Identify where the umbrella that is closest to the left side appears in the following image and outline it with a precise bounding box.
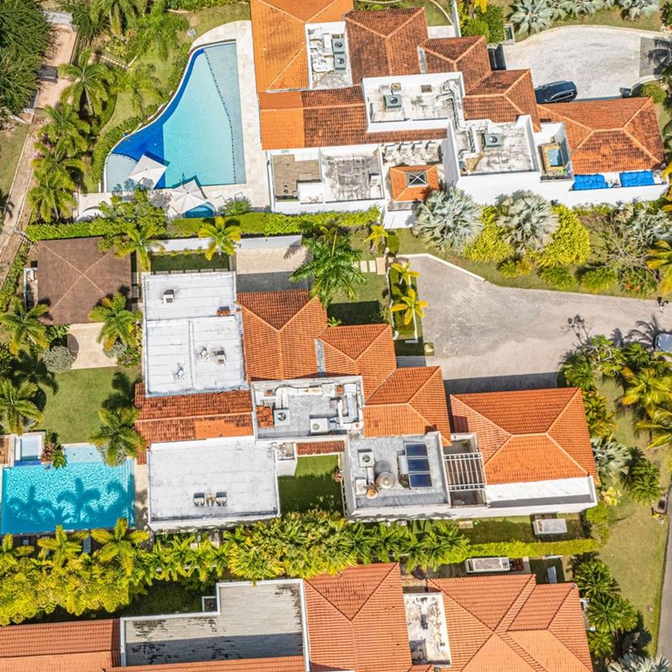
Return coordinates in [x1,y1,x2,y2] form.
[127,159,168,192]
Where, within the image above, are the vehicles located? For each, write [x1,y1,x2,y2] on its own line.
[534,80,581,104]
[651,332,672,357]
